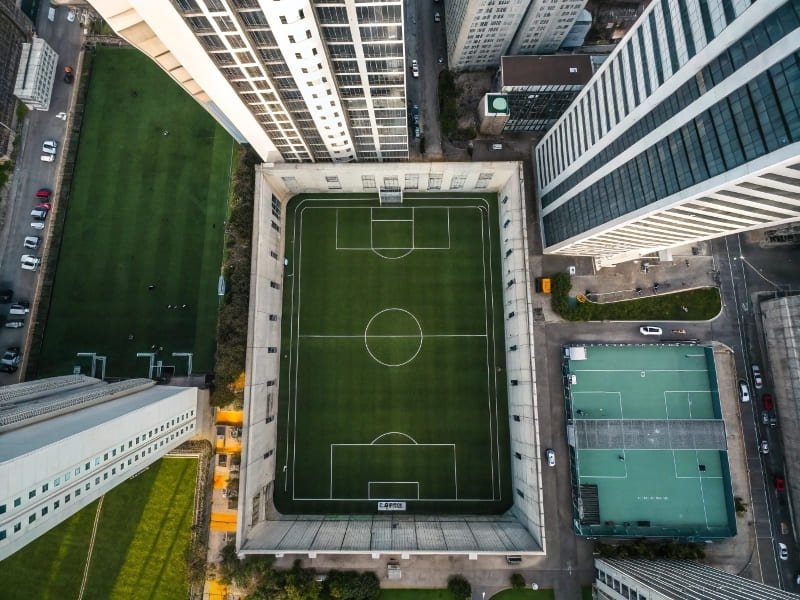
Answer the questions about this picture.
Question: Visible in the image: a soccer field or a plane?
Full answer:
This aerial view contains a soccer field.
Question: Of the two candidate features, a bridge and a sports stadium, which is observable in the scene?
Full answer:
Looking from above, you can make out a sports stadium.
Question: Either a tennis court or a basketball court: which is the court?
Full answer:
It turns out the court is a tennis court.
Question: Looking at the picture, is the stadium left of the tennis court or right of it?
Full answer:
Looking at the photo, the stadium lies to the left of the tennis court.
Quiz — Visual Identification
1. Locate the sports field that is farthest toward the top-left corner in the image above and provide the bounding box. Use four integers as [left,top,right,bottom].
[29,46,236,380]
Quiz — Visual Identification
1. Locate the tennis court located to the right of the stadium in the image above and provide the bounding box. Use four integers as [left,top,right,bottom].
[563,347,728,527]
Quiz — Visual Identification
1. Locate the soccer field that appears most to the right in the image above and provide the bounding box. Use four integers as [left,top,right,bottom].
[276,192,512,509]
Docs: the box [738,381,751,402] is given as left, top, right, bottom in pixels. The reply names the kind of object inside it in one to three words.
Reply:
vehicle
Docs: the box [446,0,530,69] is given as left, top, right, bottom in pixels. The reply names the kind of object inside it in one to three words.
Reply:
building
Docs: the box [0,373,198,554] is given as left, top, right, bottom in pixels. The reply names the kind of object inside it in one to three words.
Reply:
building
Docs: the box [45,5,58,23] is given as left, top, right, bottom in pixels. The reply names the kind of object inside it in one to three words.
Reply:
vehicle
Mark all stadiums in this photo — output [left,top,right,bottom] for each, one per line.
[236,160,547,561]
